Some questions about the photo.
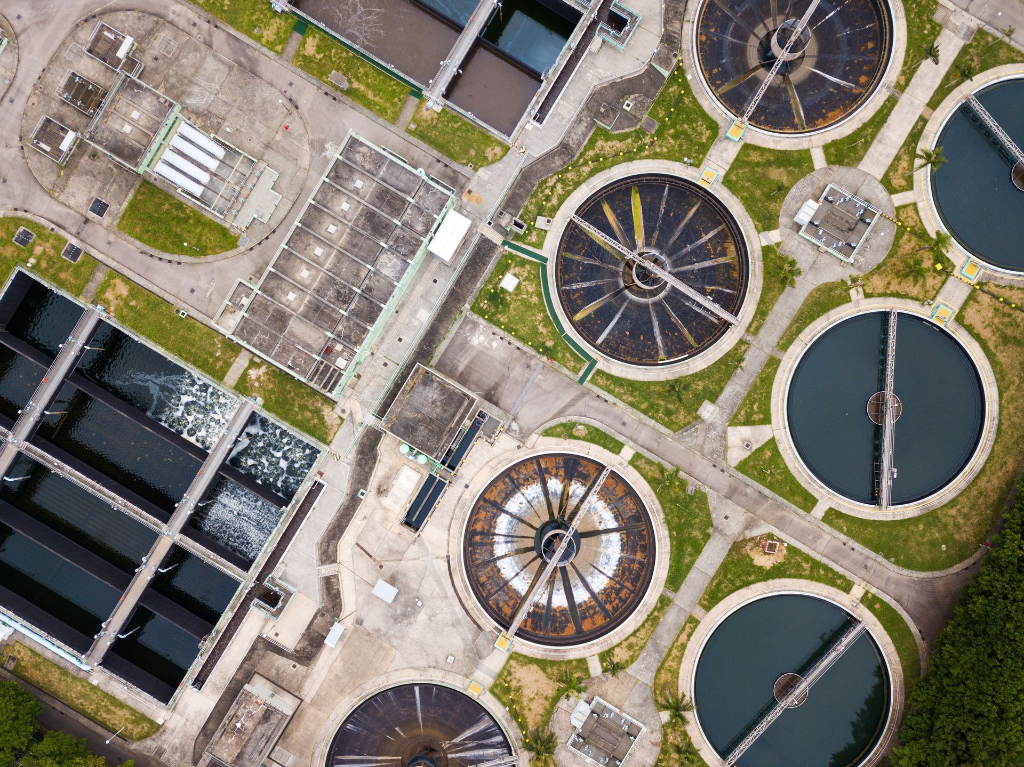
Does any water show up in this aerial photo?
Yes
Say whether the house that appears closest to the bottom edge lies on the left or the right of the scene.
left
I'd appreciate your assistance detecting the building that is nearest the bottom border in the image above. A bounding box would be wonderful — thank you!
[197,681,294,767]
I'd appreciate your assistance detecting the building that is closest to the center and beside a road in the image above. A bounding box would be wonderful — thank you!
[379,362,477,463]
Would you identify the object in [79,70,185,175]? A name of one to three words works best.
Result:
house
